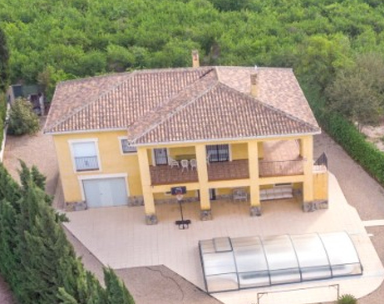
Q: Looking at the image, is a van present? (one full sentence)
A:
No, I can't see a single van in this photo.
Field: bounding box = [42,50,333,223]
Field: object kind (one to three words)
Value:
house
